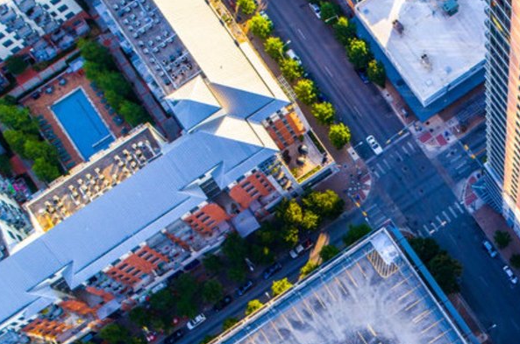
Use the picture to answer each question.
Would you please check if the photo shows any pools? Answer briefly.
Yes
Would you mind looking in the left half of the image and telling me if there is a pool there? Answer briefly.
Yes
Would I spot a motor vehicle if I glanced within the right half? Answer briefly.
Yes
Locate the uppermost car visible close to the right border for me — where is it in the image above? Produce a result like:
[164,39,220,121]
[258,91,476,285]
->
[481,239,498,260]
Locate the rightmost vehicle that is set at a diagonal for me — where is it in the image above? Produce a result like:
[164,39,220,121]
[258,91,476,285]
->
[501,265,519,286]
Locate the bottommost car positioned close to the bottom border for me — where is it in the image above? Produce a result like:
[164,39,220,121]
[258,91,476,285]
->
[163,329,185,344]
